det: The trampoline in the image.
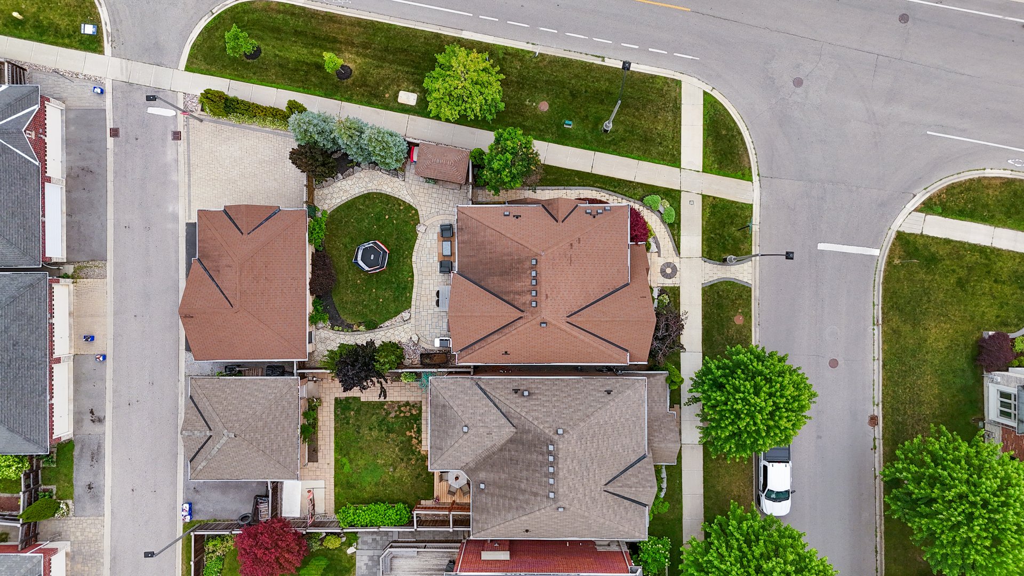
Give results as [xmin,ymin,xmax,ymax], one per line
[353,241,388,273]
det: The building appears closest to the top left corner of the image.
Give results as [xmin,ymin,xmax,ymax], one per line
[0,82,84,269]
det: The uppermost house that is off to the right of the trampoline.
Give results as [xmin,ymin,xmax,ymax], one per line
[449,199,659,366]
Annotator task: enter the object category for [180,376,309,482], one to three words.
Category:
building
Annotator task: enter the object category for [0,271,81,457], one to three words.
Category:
building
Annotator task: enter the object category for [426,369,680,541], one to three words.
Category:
house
